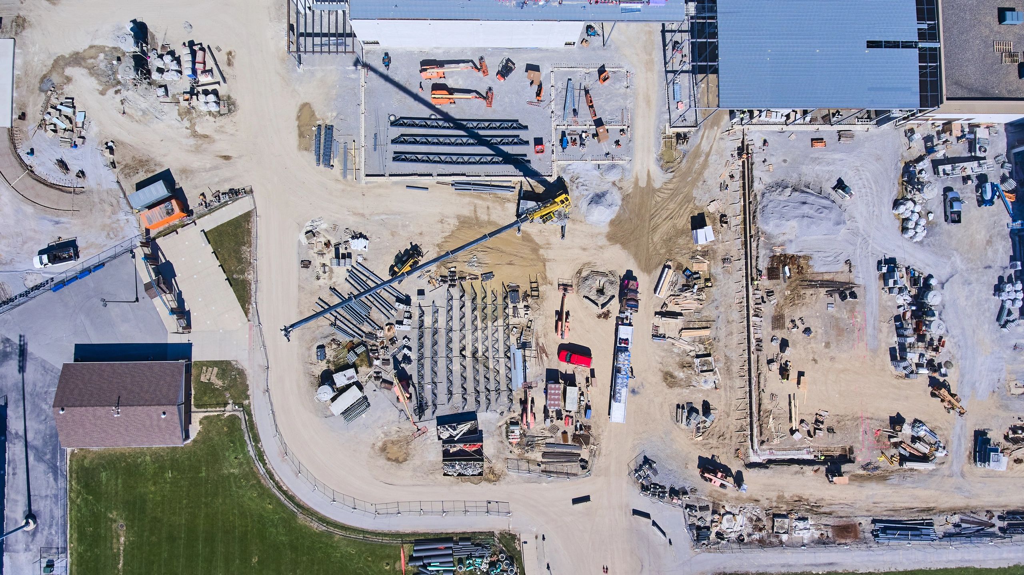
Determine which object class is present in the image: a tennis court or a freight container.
freight container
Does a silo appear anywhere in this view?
Yes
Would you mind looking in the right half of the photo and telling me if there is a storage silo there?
Yes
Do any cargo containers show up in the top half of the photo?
Yes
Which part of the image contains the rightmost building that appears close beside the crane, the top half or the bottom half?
top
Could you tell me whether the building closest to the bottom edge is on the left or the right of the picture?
left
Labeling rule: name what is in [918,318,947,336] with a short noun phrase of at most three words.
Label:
silo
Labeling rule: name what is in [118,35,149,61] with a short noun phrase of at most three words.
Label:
silo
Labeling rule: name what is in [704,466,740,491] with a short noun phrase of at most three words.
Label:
work vehicle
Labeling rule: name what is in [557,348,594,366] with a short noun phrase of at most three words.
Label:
vehicle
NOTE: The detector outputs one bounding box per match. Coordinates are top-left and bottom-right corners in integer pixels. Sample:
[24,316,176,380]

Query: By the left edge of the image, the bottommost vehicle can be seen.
[36,247,80,265]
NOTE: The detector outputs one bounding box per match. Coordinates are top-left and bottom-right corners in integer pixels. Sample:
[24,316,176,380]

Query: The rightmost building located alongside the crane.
[668,0,939,128]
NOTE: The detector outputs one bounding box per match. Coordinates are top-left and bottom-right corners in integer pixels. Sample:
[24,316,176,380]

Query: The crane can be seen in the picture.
[273,186,579,346]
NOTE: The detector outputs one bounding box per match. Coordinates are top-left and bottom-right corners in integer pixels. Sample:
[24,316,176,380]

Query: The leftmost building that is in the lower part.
[51,362,193,448]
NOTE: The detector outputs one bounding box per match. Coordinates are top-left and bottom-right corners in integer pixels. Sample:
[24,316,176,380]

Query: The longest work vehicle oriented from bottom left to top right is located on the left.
[390,245,427,276]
